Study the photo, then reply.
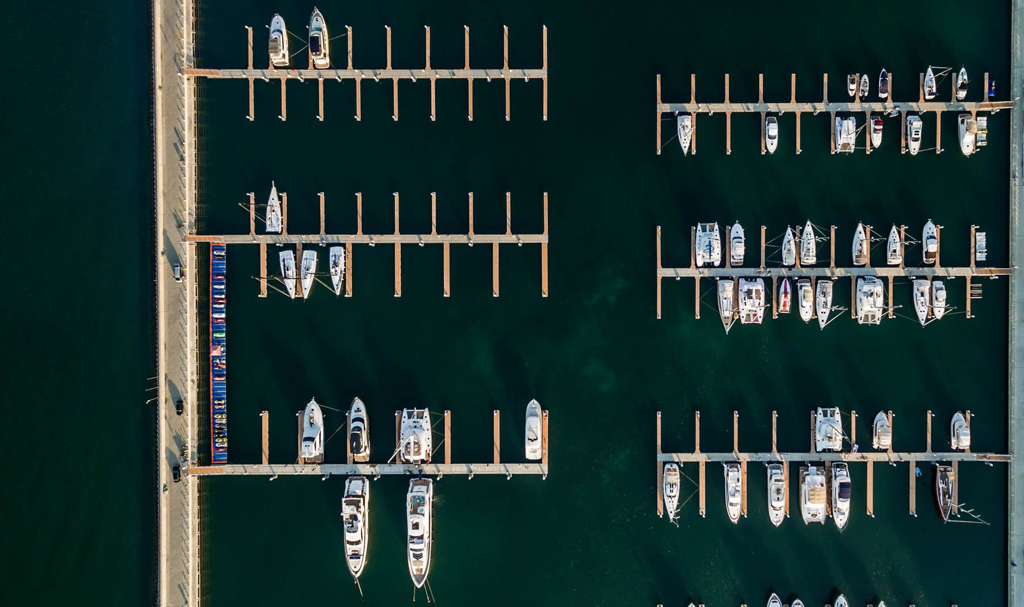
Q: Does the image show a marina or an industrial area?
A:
marina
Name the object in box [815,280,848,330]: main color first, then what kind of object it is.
white boat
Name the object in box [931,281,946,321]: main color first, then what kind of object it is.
white boat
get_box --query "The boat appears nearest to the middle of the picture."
[526,397,542,459]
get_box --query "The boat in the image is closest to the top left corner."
[268,13,291,68]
